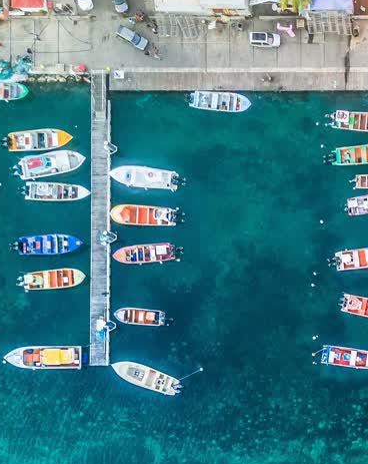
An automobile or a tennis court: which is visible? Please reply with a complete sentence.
Looking from above, you can make out an automobile.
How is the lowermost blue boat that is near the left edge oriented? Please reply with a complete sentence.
In this picture, the lowermost blue boat that is near the left edge is oriented horizontally.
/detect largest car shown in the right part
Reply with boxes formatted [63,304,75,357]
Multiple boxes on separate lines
[250,30,281,49]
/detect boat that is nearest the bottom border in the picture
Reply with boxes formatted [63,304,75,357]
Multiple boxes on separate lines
[110,362,201,396]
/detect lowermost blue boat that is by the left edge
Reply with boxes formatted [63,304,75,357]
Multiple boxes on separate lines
[12,233,89,254]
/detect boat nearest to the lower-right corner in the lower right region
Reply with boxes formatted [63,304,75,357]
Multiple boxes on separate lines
[320,345,368,369]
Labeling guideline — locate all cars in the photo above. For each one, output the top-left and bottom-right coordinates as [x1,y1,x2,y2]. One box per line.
[78,0,95,12]
[116,24,150,51]
[111,0,131,15]
[250,30,281,49]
